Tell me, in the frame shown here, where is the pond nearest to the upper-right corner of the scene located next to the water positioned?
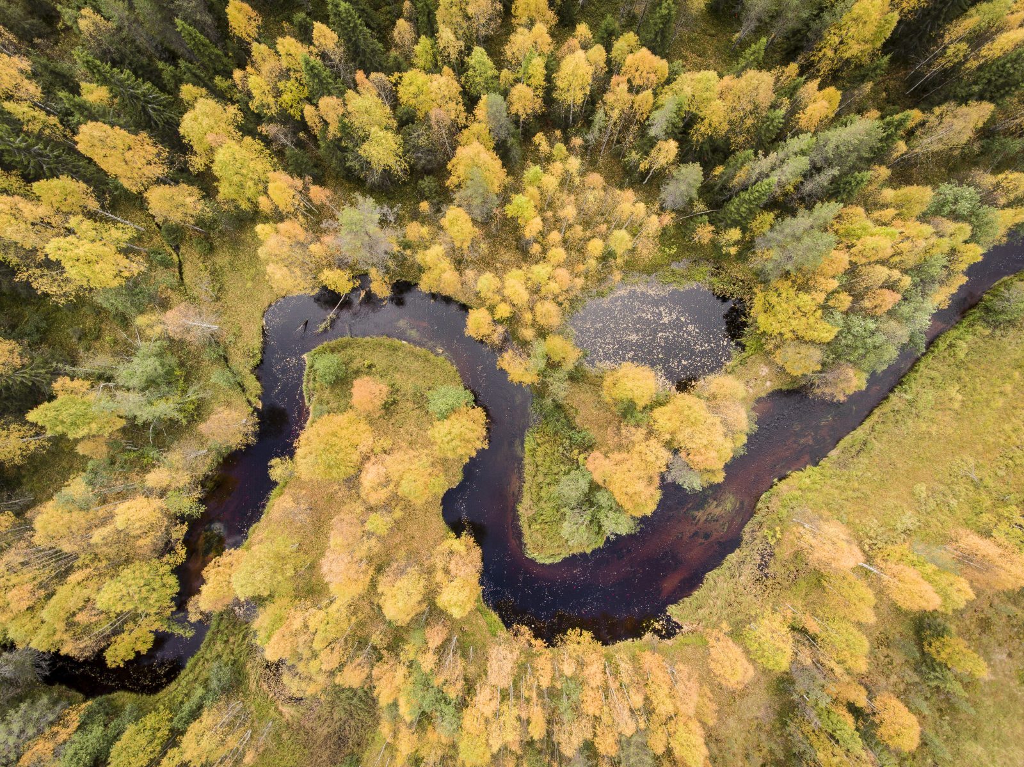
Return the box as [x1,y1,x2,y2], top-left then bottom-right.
[564,274,752,392]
